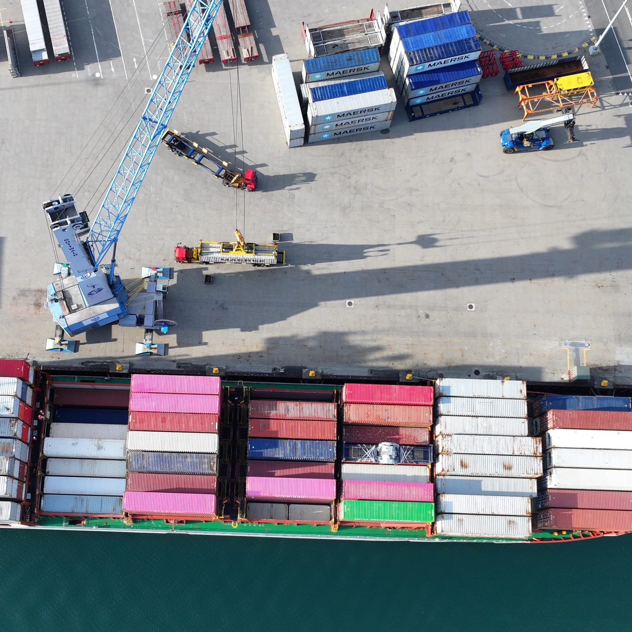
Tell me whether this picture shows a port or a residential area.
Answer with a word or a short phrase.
port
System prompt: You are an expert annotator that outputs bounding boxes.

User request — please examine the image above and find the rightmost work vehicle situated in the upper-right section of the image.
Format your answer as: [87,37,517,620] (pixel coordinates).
[502,108,579,155]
